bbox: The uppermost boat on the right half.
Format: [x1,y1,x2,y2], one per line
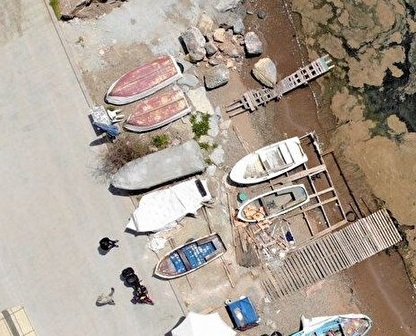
[228,133,312,183]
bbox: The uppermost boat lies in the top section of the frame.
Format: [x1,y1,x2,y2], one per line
[106,55,187,106]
